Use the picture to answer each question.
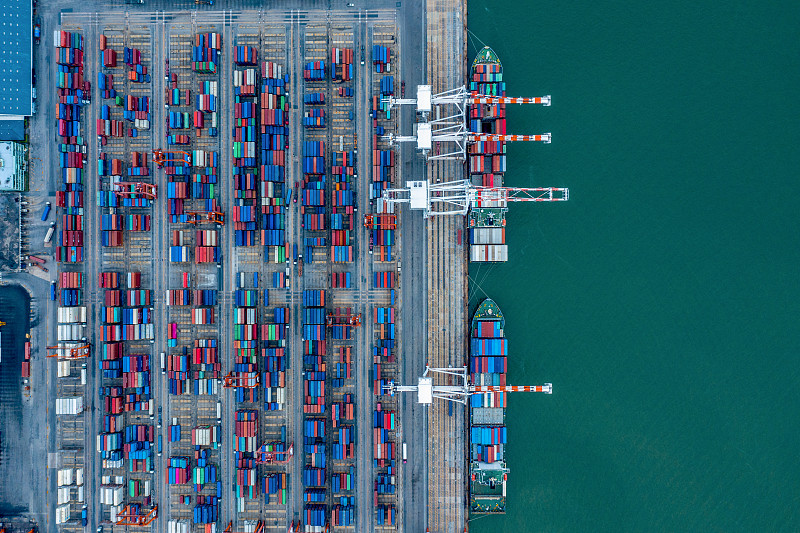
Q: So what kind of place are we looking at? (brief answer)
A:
port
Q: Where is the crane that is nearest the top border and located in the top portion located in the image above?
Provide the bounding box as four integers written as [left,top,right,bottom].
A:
[381,84,552,130]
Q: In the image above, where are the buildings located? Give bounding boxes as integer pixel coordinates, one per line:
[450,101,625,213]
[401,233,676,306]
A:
[0,141,25,193]
[0,0,33,116]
